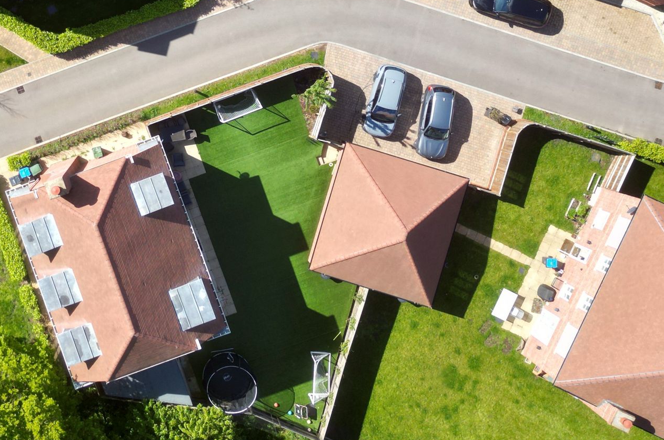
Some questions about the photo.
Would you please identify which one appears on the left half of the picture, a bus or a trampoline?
trampoline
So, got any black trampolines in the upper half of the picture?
No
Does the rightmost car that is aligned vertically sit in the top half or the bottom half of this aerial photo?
top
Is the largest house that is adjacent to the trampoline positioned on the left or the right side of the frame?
left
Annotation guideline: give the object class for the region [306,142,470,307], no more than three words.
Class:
building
